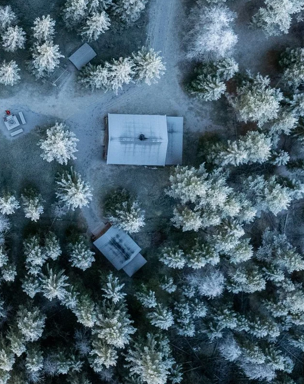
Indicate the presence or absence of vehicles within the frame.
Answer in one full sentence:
No, the scene contains no vehicle.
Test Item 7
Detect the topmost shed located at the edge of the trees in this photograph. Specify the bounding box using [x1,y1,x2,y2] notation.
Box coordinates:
[68,42,97,70]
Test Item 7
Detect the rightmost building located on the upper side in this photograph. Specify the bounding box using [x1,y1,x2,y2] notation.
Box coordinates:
[97,114,182,166]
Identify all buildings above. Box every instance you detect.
[87,217,142,271]
[97,114,182,166]
[68,42,97,70]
